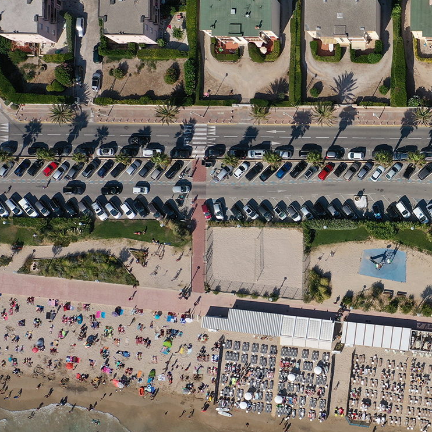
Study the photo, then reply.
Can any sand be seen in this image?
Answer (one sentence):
Yes, there is sand in the image.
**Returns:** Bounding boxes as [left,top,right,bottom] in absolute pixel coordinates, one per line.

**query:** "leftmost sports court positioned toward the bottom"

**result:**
[207,227,302,300]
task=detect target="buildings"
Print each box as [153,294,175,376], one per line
[305,0,385,51]
[201,309,335,350]
[200,0,281,50]
[99,0,169,44]
[410,0,432,51]
[0,0,68,42]
[341,322,432,352]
